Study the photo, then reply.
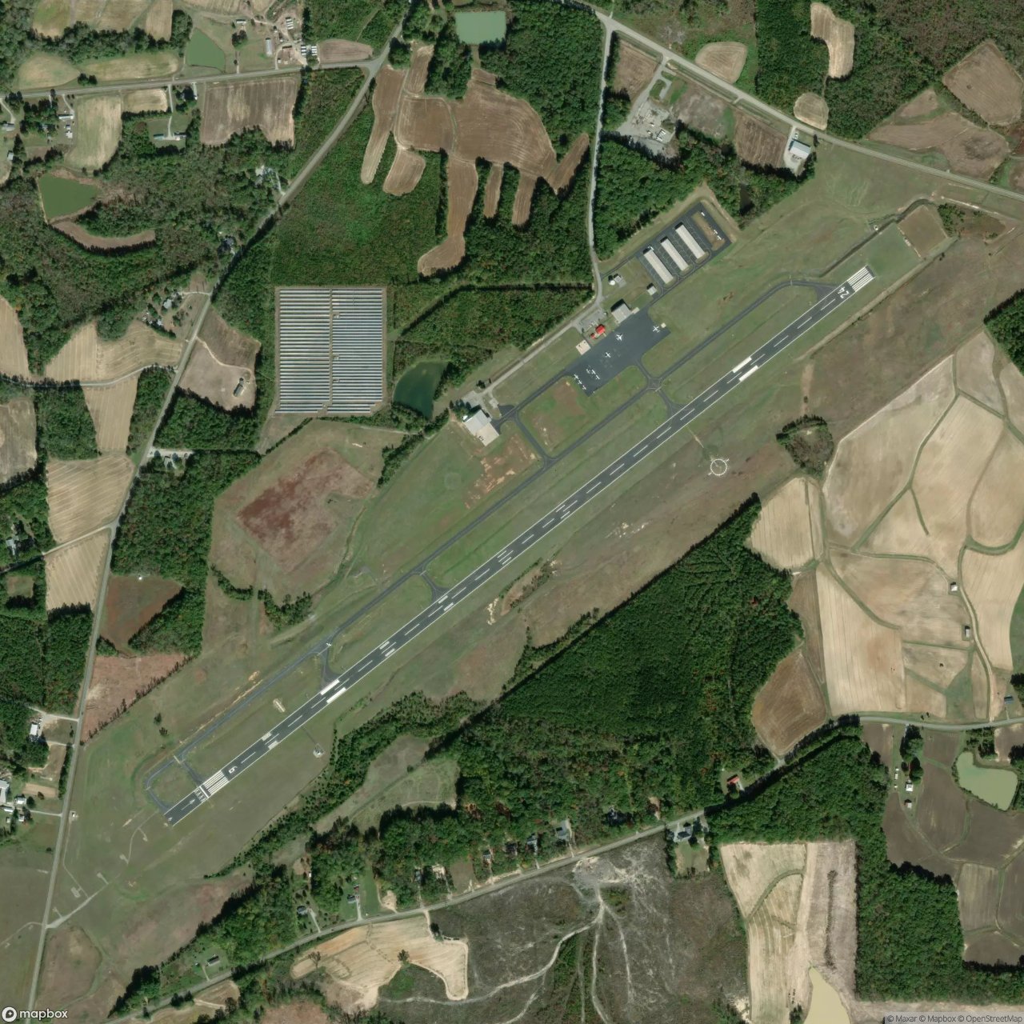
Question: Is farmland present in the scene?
Yes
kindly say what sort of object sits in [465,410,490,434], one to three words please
hangar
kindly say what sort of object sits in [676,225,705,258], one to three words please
hangar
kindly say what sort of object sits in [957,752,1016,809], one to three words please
pond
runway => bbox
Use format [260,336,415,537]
[164,264,877,826]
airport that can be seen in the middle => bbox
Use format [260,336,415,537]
[147,203,877,826]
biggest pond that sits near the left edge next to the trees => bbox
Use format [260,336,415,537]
[38,175,98,218]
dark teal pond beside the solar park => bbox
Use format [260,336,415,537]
[392,361,447,418]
